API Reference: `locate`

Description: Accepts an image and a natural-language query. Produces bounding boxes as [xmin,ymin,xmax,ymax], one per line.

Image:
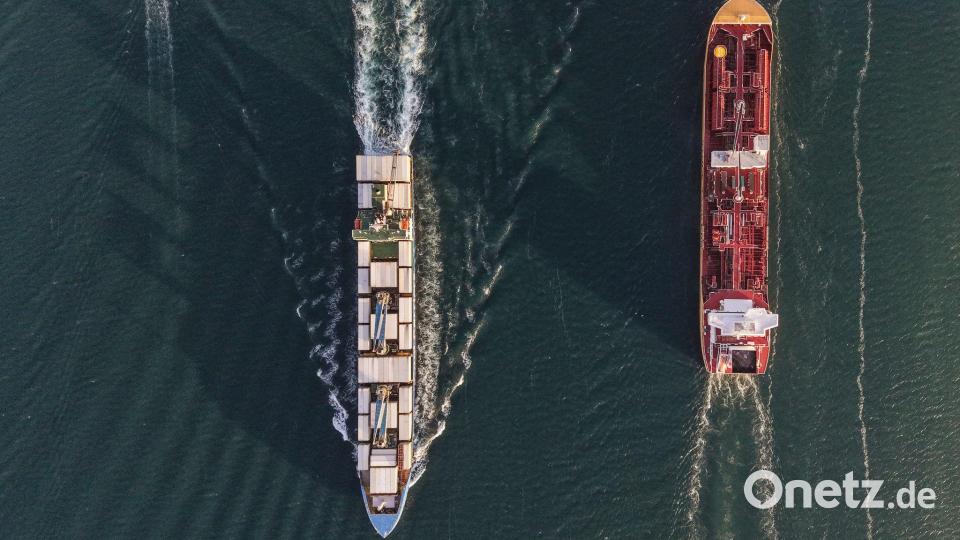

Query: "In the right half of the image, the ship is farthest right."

[699,0,778,373]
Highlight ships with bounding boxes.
[352,148,415,536]
[699,0,778,373]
